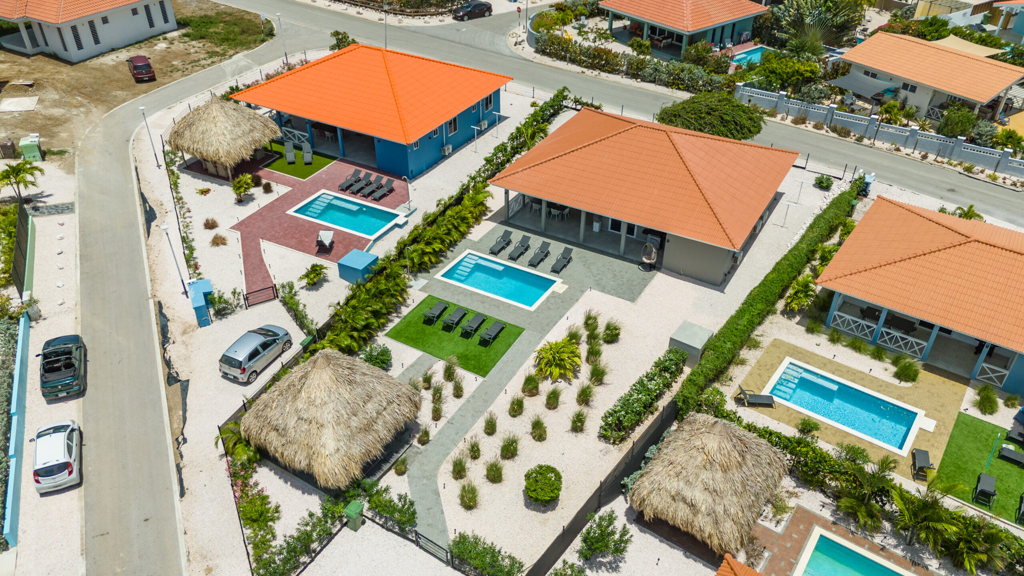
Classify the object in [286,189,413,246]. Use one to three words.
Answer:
swimming pool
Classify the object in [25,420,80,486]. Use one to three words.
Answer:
car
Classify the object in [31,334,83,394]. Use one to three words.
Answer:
car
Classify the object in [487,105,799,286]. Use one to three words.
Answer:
house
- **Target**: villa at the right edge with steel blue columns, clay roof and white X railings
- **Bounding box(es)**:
[814,194,1024,401]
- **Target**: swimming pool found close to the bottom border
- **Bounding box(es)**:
[785,524,912,576]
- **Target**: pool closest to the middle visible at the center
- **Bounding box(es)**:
[435,249,561,311]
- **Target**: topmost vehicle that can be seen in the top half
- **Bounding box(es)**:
[453,1,492,19]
